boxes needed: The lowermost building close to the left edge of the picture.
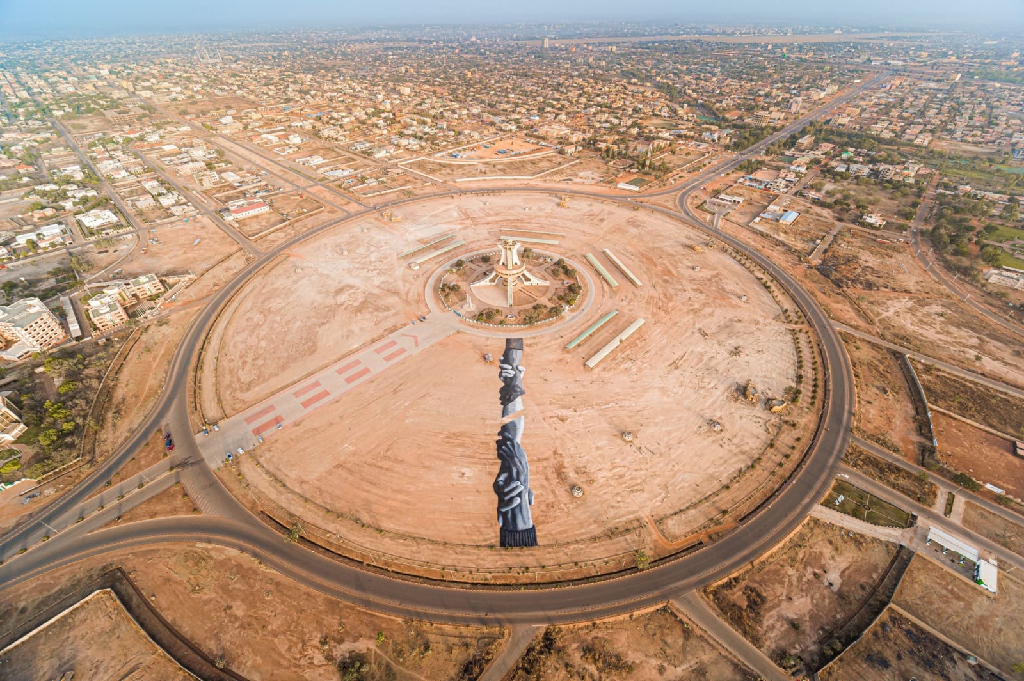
[0,401,42,442]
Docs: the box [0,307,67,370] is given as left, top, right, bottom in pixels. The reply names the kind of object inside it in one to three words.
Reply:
building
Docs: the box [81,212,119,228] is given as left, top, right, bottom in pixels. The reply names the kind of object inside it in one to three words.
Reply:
house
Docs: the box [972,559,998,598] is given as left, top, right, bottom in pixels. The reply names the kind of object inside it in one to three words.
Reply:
building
